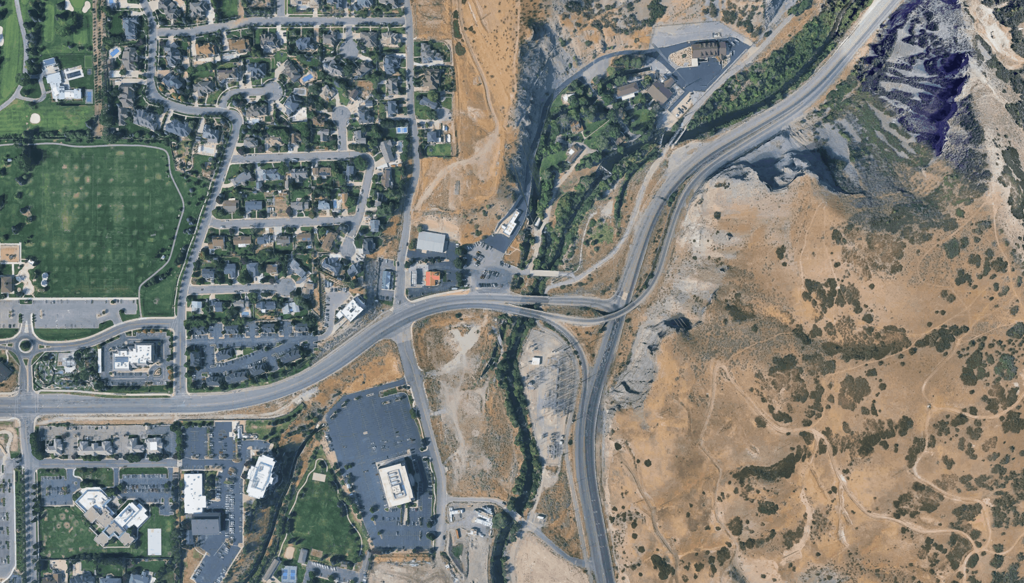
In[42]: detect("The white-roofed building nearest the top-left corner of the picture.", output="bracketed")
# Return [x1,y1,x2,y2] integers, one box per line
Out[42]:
[46,73,83,101]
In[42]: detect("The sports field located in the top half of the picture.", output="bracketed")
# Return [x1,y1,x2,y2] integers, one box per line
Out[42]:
[0,137,210,314]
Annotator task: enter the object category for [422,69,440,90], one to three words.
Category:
house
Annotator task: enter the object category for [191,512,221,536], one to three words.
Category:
building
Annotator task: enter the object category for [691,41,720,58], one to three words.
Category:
building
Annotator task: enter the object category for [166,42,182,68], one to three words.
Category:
house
